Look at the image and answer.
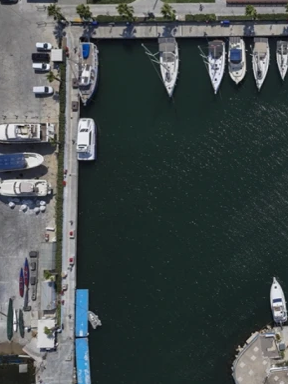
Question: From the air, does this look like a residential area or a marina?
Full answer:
It's a marina.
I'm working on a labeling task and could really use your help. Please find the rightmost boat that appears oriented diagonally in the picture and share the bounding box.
[88,313,102,329]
